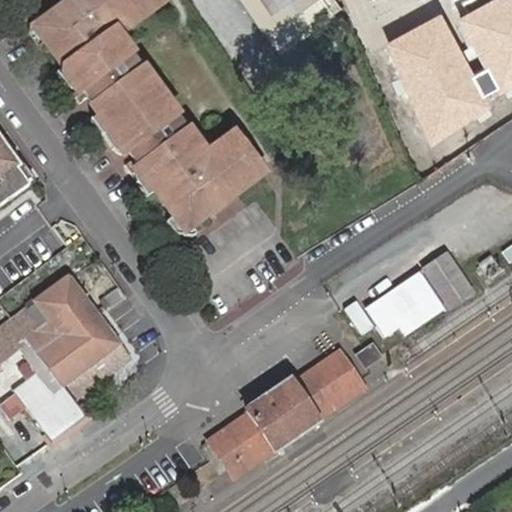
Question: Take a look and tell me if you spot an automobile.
Yes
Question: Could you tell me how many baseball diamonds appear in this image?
0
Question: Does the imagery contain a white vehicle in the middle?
Yes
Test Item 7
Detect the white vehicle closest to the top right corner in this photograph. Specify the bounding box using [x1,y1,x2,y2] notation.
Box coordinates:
[354,216,376,234]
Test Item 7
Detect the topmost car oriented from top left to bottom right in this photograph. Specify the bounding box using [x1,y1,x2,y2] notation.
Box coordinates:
[6,108,22,128]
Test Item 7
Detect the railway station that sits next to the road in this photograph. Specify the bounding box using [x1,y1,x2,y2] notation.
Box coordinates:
[186,292,512,512]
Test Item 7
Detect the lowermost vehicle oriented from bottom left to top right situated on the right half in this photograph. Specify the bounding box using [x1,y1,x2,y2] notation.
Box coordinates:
[366,278,391,298]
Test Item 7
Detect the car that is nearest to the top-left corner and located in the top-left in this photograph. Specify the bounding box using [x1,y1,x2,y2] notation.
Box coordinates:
[6,44,26,61]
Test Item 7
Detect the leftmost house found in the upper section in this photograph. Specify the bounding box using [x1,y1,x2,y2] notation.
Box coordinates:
[0,132,34,204]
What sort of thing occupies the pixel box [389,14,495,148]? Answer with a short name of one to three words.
building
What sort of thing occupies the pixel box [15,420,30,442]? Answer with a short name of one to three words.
car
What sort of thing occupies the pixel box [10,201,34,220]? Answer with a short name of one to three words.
vehicle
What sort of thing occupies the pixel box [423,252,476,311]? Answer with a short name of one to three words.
shed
